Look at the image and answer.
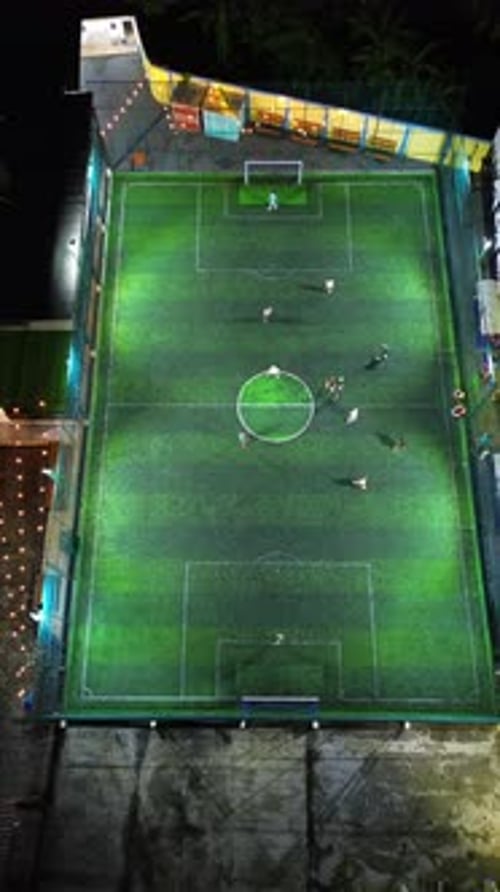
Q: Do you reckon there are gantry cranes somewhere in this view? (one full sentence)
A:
No, no gantry crane is visible in the scene.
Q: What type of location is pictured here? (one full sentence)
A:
It's a sports ground.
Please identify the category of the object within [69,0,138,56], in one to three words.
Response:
house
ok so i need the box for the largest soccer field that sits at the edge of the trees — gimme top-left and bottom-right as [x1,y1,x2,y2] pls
[58,168,497,716]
